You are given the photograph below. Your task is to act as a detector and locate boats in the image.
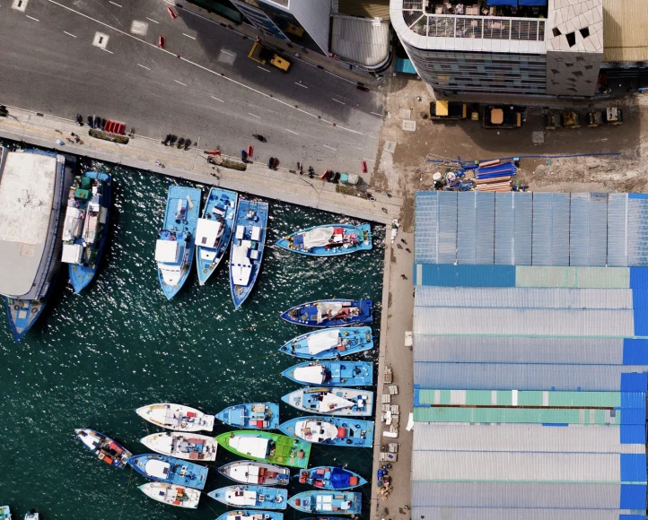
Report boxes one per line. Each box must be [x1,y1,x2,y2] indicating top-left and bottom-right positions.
[155,185,202,300]
[139,432,220,461]
[215,402,282,431]
[0,505,15,520]
[274,222,374,258]
[280,360,374,387]
[280,387,374,418]
[299,466,367,492]
[24,511,41,520]
[193,186,240,285]
[136,482,203,511]
[207,485,290,512]
[215,431,313,469]
[278,416,376,447]
[59,169,120,293]
[125,456,211,491]
[74,429,134,469]
[227,199,269,309]
[278,326,376,359]
[279,299,374,328]
[217,460,292,487]
[287,491,364,516]
[134,403,219,435]
[217,509,286,520]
